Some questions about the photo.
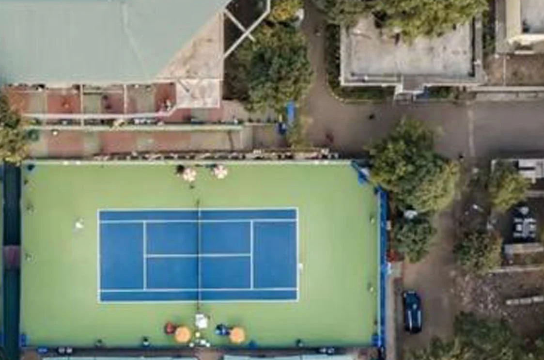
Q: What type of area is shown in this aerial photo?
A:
sports ground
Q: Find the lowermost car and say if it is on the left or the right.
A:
right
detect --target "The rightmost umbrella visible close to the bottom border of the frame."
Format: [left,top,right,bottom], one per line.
[231,328,245,342]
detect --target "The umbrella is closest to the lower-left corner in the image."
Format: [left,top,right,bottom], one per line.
[175,328,190,342]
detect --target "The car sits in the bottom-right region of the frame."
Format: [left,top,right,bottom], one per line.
[402,291,423,332]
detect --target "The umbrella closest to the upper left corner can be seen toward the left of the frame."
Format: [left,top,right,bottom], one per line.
[182,167,196,180]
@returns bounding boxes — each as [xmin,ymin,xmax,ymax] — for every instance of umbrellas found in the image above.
[182,167,196,180]
[231,328,245,342]
[175,328,190,342]
[214,166,227,178]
